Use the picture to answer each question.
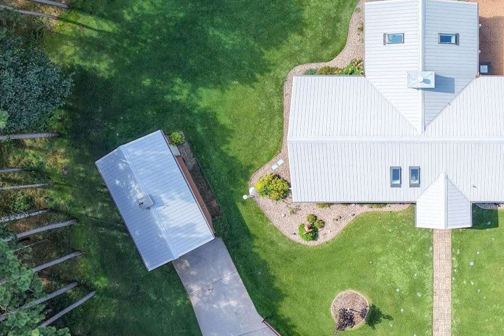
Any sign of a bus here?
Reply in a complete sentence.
No, the scene contains no bus.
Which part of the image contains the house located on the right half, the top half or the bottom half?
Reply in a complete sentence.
The house located on the right half is in the top half of the image.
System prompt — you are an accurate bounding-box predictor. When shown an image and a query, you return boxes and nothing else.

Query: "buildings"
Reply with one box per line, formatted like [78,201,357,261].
[286,0,504,230]
[94,130,217,272]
